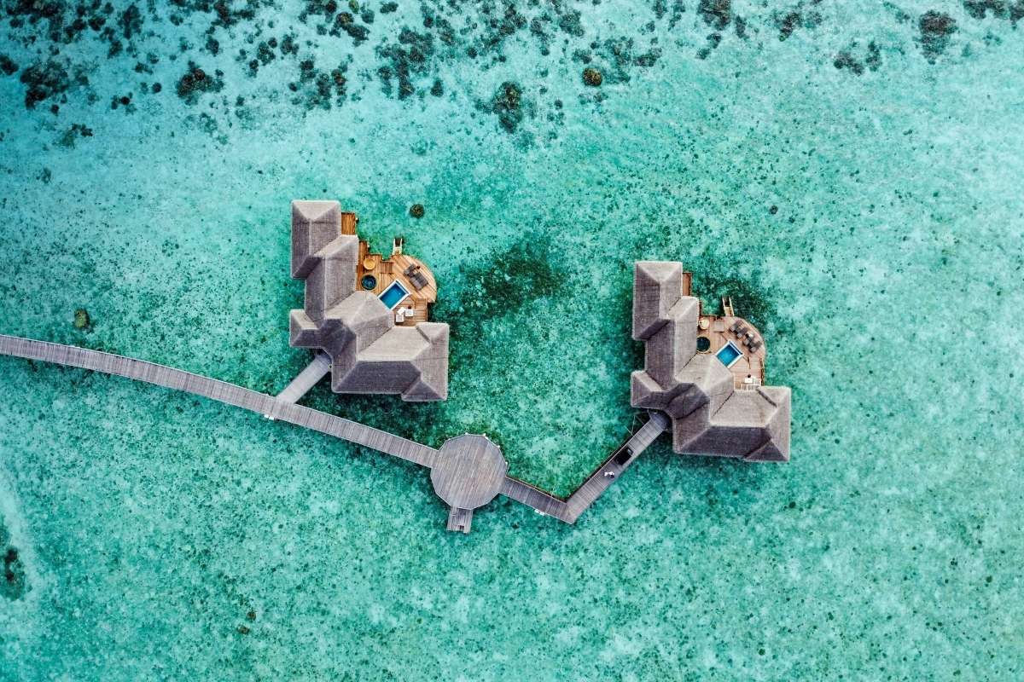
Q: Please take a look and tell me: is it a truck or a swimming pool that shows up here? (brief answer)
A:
swimming pool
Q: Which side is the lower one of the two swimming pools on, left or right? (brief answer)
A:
right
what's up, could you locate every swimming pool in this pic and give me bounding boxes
[716,342,741,366]
[379,282,407,307]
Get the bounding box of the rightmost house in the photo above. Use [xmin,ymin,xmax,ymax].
[630,261,791,463]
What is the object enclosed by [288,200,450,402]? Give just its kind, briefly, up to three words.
house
